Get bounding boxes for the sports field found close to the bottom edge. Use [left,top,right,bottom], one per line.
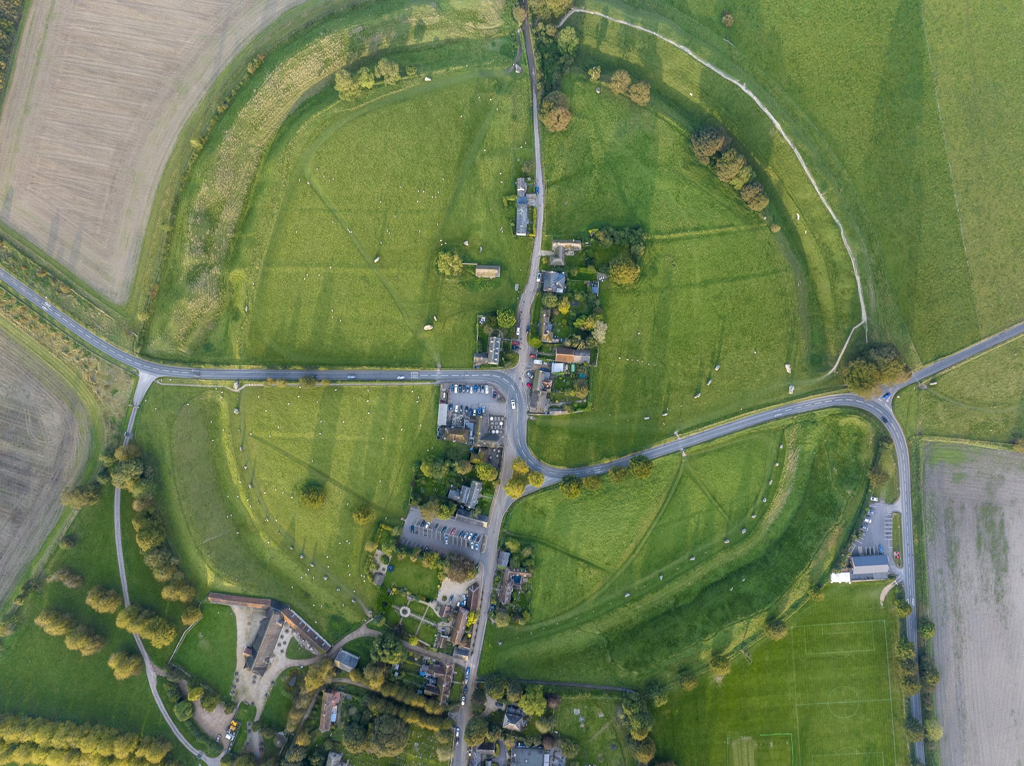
[645,582,909,766]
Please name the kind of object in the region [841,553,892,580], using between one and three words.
building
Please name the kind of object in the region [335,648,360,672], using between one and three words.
shed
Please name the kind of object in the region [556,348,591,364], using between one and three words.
barn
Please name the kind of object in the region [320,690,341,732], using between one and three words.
house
